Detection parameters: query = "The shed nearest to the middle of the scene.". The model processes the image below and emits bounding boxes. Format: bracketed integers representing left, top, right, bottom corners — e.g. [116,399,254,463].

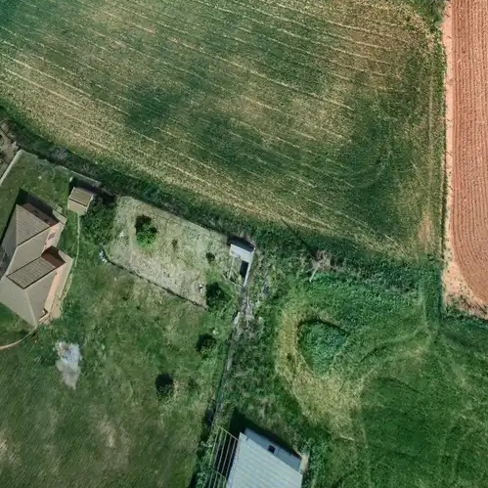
[229,239,260,262]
